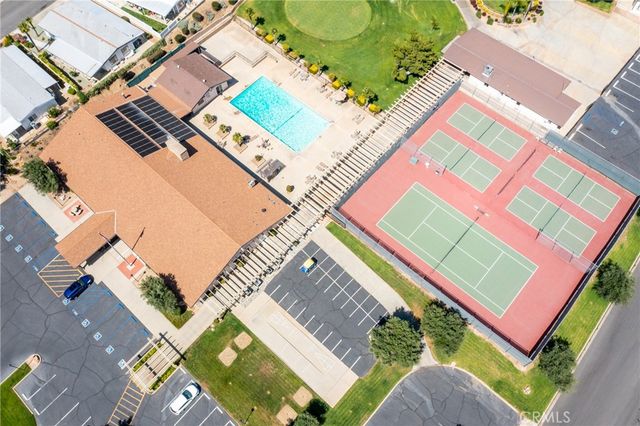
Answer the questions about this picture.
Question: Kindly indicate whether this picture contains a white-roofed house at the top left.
Yes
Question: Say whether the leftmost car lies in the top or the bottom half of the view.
bottom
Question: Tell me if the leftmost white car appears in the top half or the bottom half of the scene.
bottom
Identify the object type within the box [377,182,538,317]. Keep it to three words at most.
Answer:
tennis court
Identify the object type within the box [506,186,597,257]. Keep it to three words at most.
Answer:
sports court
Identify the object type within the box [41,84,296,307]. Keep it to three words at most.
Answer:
building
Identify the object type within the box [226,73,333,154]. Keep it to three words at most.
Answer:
swimming pool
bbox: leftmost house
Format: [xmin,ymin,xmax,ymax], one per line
[0,43,62,145]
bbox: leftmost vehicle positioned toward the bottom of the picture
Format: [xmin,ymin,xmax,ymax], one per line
[60,274,94,302]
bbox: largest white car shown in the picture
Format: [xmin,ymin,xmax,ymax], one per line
[167,382,202,417]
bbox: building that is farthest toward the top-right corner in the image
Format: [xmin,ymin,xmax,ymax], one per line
[439,29,579,131]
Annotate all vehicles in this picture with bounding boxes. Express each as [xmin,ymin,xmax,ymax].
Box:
[301,257,318,275]
[60,274,94,302]
[167,382,202,417]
